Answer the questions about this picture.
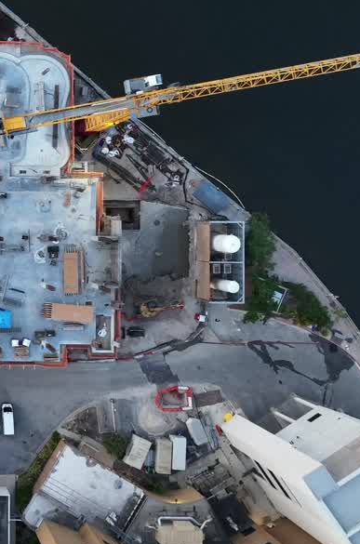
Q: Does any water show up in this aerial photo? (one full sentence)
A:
Yes, there is water in the image.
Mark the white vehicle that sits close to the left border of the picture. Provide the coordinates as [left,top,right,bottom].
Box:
[1,405,16,438]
